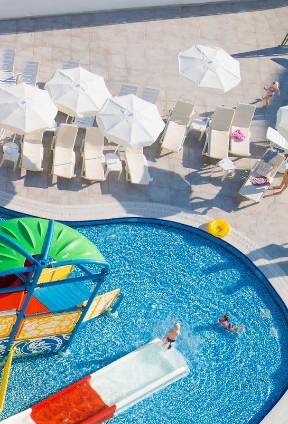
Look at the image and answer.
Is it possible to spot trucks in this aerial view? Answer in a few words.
No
